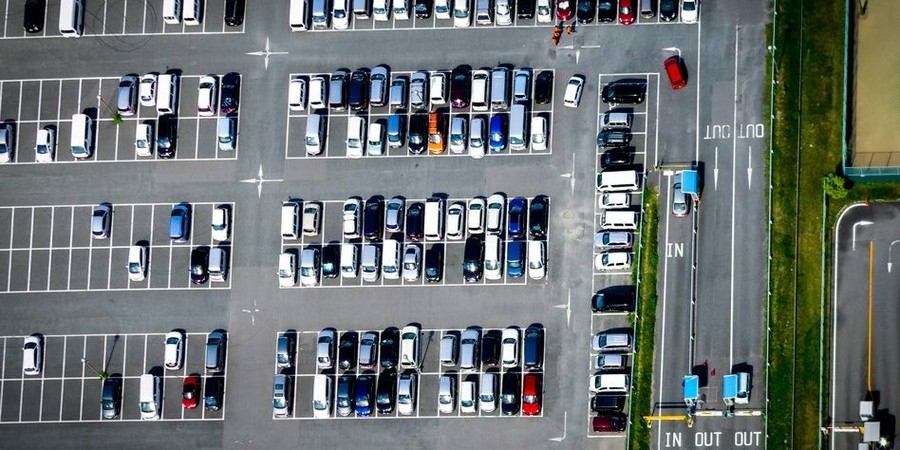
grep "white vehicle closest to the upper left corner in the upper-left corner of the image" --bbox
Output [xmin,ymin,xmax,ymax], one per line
[60,0,83,38]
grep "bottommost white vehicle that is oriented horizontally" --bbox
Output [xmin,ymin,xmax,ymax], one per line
[590,374,630,393]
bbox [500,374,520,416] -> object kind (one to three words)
vehicle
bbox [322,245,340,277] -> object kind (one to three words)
car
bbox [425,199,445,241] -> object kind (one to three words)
vehicle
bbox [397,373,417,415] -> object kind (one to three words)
car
